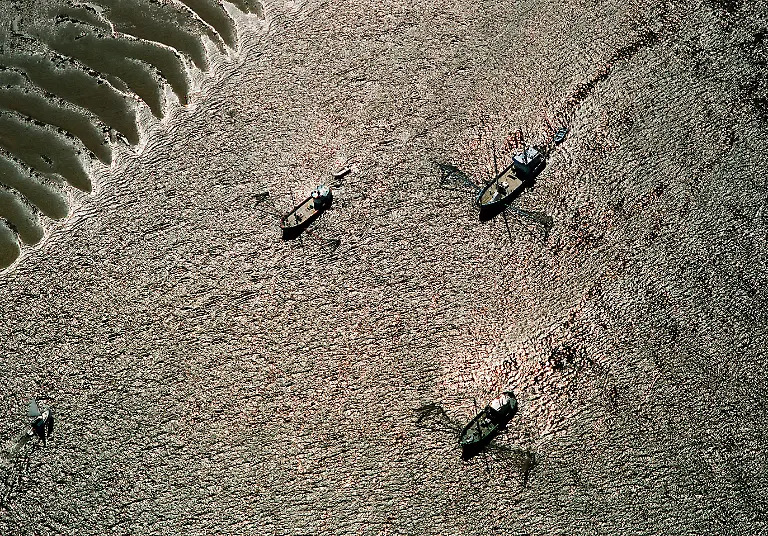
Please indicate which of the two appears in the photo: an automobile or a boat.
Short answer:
boat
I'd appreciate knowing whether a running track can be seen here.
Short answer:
No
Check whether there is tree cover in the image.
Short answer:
No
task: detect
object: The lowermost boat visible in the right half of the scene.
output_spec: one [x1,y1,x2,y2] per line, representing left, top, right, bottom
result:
[416,391,537,474]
